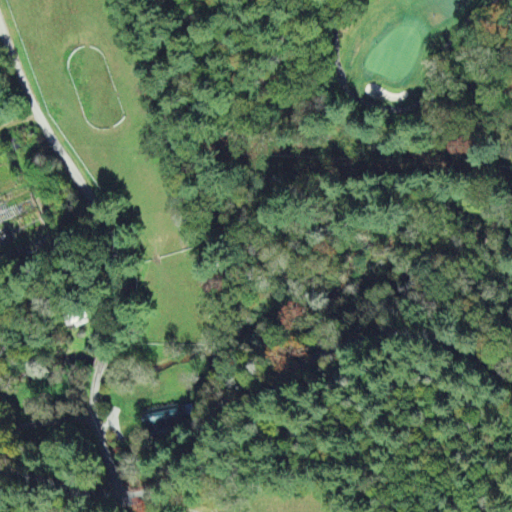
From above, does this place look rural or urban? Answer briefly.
rural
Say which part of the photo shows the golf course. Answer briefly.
top right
